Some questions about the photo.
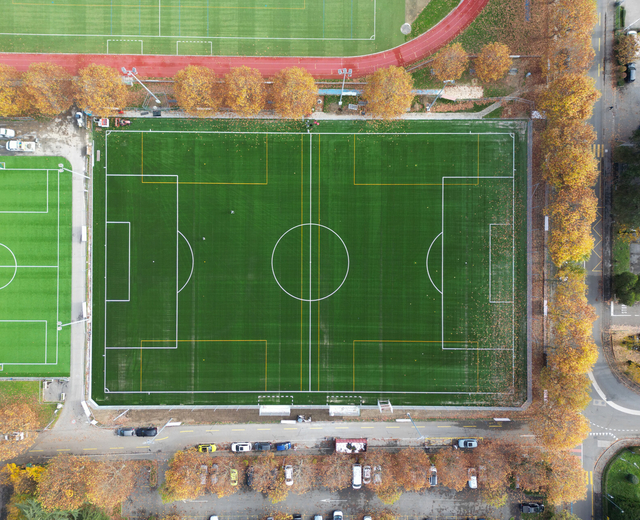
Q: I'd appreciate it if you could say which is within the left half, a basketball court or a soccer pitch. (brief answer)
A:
soccer pitch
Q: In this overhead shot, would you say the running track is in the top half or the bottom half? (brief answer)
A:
top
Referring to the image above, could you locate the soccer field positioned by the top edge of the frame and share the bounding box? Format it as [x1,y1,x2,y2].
[0,0,406,57]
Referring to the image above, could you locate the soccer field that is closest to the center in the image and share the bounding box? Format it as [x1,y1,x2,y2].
[91,118,531,409]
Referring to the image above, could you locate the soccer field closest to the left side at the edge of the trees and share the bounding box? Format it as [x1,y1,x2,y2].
[0,156,71,380]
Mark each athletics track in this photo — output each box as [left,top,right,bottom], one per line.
[0,0,487,79]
